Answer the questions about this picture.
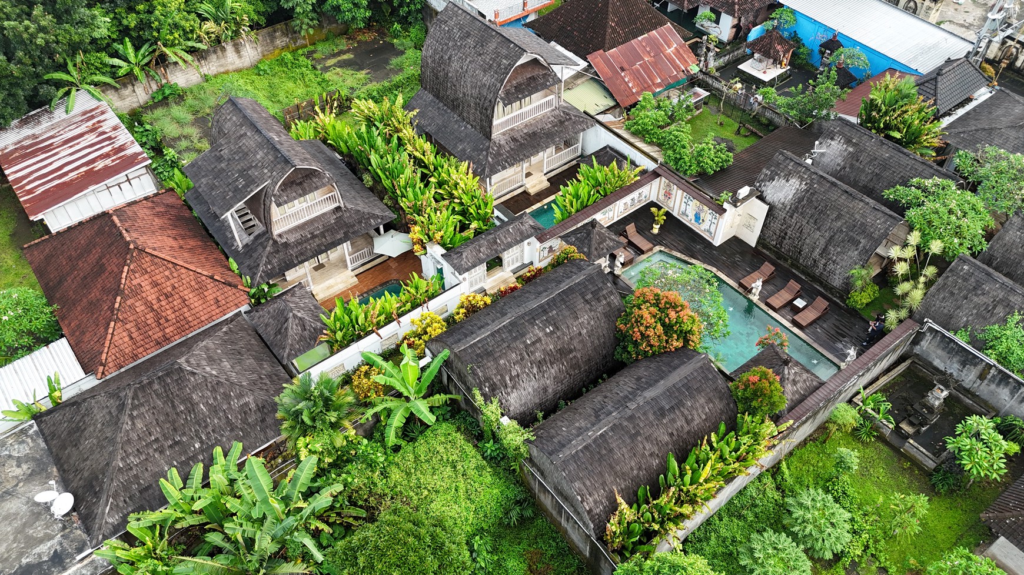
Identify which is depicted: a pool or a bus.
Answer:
pool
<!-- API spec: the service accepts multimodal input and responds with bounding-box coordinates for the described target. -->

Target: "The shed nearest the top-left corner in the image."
[0,84,159,235]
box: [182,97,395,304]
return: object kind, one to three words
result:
house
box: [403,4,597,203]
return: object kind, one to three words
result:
house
